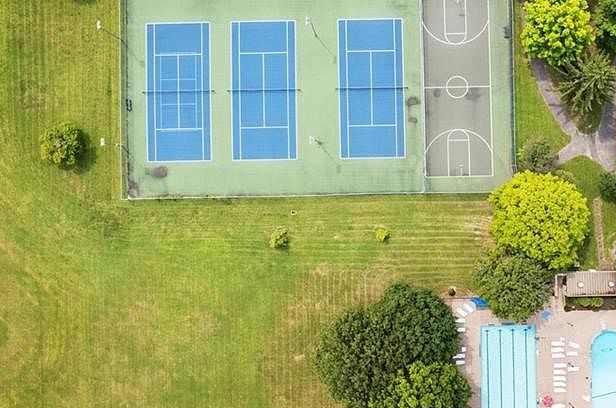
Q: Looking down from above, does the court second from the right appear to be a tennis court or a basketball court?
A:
tennis court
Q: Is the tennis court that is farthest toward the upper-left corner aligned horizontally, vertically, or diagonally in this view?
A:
vertically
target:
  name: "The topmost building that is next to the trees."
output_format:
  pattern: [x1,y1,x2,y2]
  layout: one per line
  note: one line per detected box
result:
[563,269,616,296]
